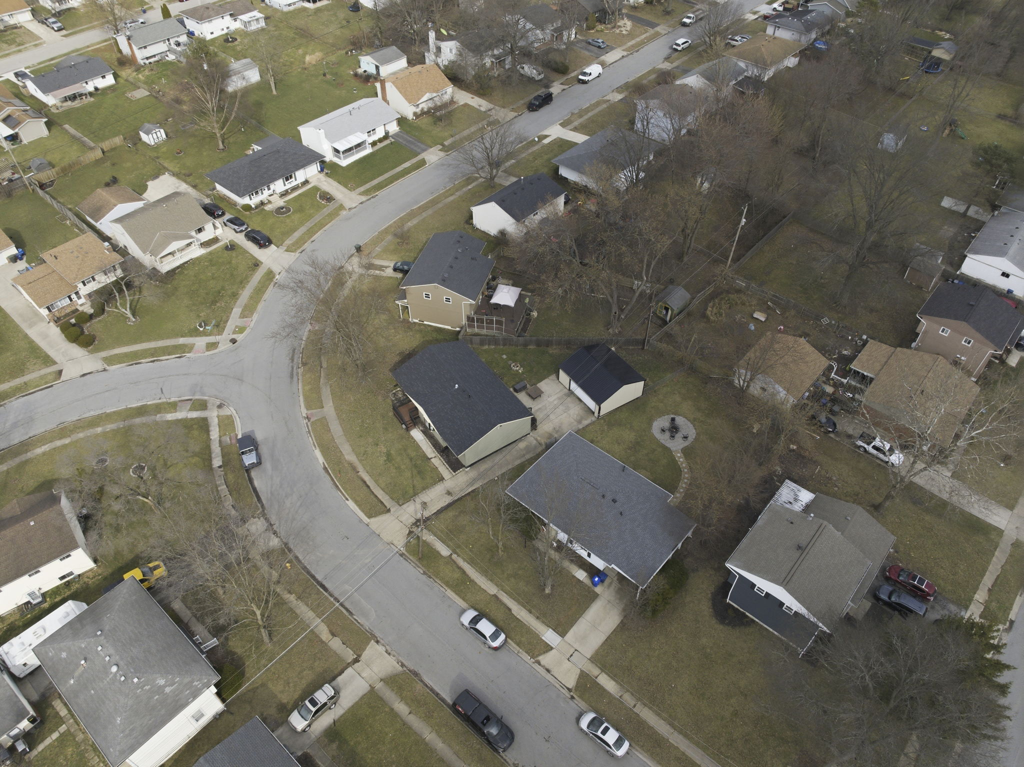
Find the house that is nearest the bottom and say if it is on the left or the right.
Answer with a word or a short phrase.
left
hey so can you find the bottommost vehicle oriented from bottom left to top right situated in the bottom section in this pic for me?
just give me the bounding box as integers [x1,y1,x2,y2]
[284,682,343,735]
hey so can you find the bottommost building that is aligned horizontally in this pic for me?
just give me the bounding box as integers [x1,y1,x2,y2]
[193,716,300,767]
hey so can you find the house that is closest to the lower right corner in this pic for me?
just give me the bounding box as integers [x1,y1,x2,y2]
[720,493,896,654]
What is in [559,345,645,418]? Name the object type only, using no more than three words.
building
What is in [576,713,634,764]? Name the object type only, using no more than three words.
car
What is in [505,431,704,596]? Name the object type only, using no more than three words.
house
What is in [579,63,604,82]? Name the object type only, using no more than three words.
vehicle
